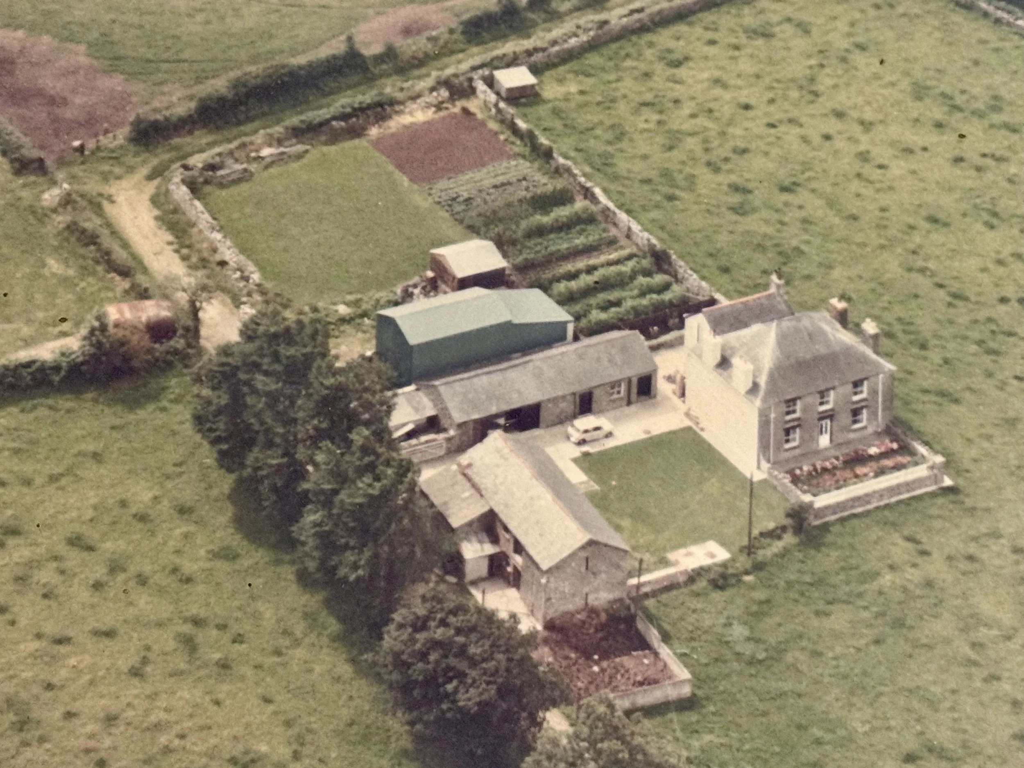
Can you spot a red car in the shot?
No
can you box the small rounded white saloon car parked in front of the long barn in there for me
[564,414,616,445]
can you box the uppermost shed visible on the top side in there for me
[491,65,538,100]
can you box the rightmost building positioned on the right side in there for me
[673,269,900,468]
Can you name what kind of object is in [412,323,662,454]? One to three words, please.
barn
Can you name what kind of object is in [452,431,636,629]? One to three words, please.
barn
